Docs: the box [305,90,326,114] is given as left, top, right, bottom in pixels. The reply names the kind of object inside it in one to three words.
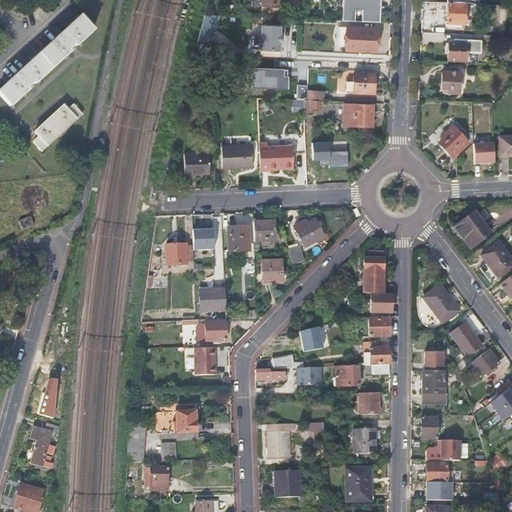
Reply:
building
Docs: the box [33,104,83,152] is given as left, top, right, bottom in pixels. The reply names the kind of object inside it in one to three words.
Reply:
building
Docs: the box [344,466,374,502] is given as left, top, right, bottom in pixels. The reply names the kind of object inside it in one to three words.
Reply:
house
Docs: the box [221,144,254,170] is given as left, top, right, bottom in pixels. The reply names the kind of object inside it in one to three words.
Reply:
house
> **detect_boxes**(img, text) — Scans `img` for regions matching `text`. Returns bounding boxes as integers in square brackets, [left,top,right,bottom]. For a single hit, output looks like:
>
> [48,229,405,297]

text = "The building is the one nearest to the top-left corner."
[0,12,98,109]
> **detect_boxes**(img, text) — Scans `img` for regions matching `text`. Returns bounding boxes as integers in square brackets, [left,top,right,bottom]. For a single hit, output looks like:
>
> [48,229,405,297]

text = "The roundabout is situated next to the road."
[352,146,450,241]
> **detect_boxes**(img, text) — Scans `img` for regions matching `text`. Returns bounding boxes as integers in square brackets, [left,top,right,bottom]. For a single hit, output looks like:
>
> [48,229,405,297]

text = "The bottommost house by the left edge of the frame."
[14,480,47,512]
